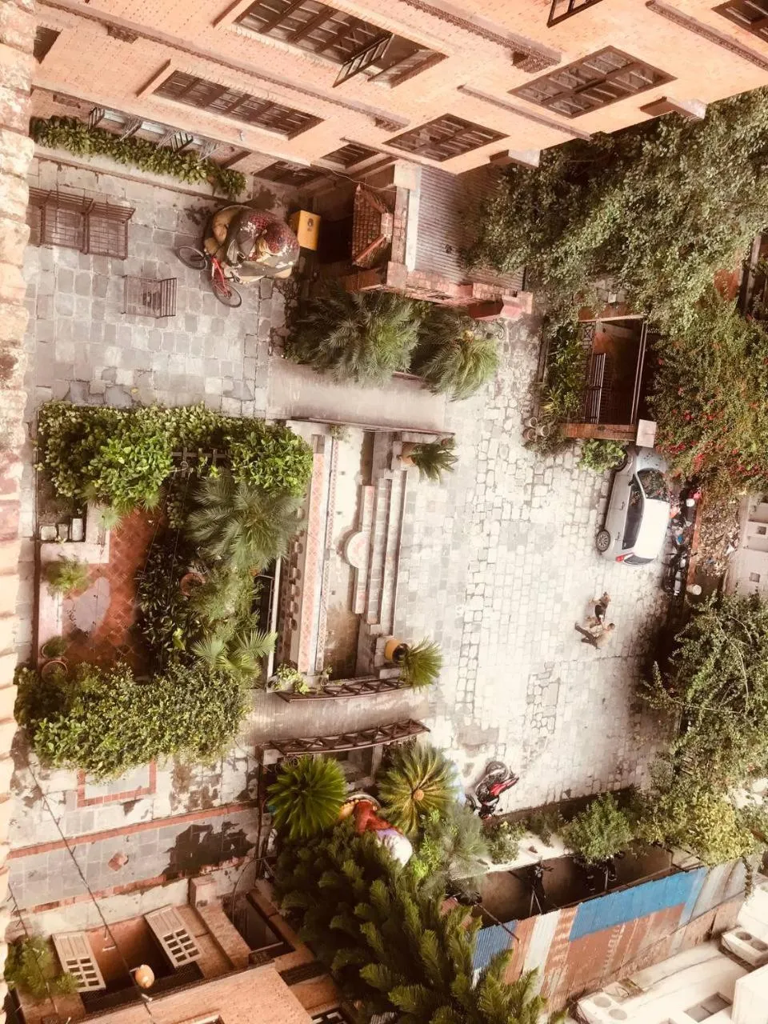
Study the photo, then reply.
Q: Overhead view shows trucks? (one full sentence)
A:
No, no truck is visible in the view.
